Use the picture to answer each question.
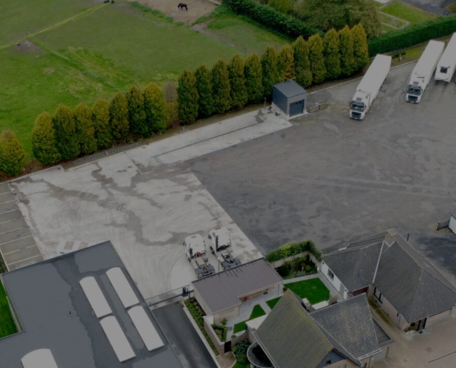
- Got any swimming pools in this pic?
No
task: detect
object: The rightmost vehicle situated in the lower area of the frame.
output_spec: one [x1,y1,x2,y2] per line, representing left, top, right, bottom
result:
[207,230,237,271]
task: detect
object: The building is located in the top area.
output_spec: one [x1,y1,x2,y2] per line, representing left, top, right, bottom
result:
[272,79,309,118]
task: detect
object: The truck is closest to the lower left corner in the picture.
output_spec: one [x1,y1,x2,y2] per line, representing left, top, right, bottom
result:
[185,236,212,279]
